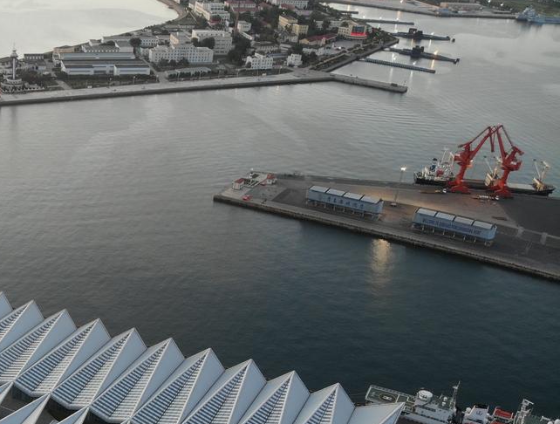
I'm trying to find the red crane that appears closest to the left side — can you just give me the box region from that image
[446,124,501,196]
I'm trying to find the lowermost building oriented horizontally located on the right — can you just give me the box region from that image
[415,210,504,247]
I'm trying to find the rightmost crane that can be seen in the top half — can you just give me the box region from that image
[488,124,538,201]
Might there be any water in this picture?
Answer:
Yes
